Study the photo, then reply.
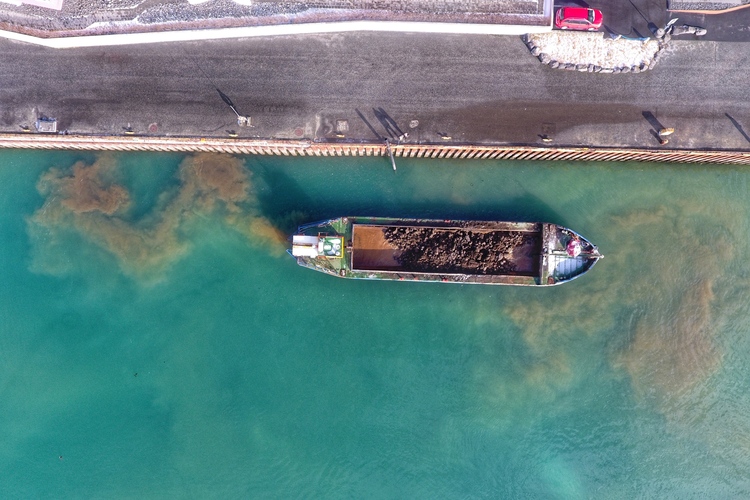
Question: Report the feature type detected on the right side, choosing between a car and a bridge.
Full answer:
Looking on the right side, you will find a car.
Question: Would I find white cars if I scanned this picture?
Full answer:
No, I can't see a single white car in this photo.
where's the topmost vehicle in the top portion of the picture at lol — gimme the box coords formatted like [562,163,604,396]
[554,6,603,33]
